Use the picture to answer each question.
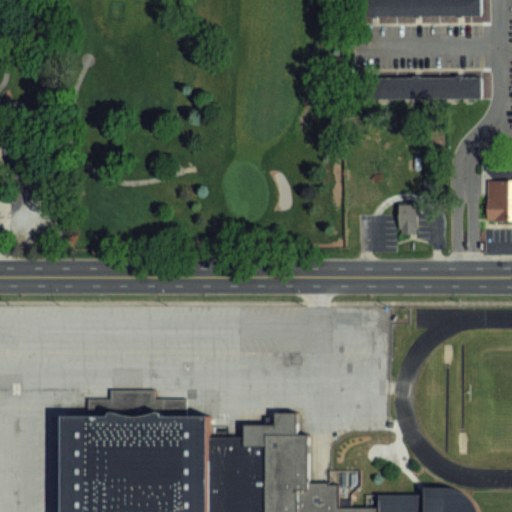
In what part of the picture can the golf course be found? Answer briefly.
top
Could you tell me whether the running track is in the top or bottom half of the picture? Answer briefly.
bottom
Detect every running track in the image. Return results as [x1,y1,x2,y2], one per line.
[396,309,512,488]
